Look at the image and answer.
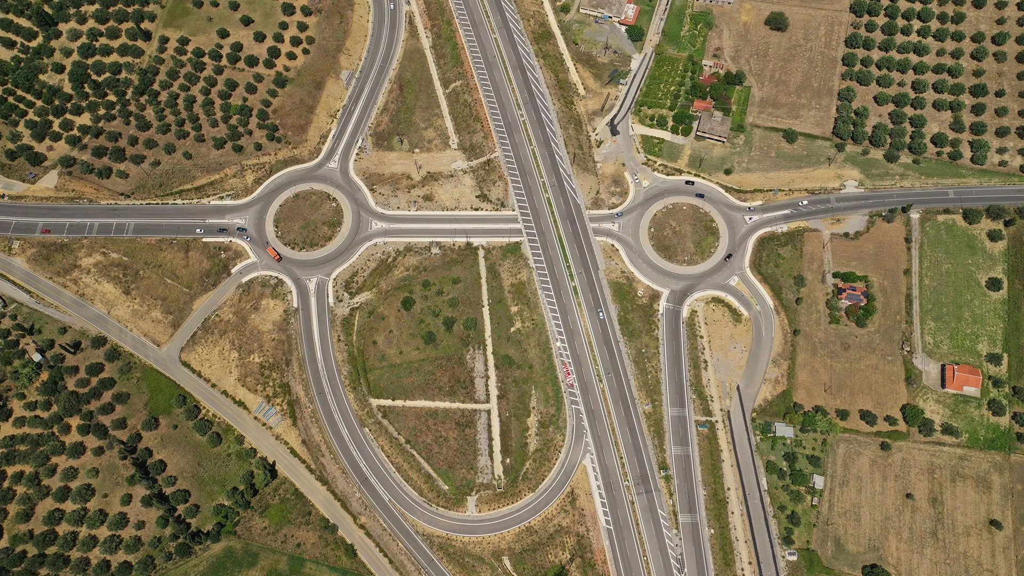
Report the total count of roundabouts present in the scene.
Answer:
2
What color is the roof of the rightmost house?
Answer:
orange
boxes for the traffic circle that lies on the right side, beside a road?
[588,163,790,323]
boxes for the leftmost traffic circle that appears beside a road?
[202,125,523,307]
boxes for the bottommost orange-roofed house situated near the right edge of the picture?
[937,363,982,399]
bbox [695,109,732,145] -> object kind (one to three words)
house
